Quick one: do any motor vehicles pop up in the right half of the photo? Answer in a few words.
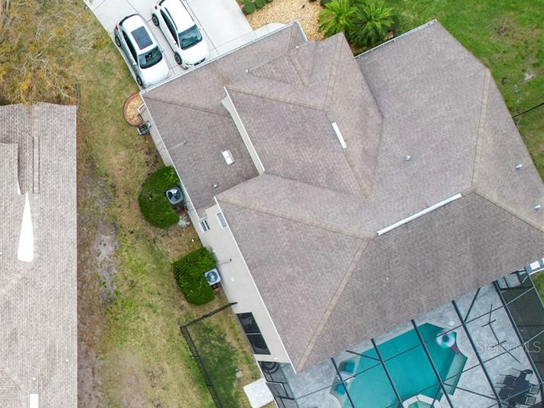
No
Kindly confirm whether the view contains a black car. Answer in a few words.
No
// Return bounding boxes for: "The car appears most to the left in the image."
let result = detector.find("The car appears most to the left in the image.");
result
[115,11,173,91]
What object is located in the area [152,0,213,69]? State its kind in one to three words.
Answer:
car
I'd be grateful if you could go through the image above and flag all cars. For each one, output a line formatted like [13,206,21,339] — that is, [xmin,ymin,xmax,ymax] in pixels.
[115,11,173,91]
[152,0,213,69]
